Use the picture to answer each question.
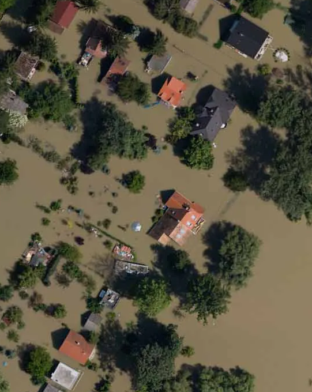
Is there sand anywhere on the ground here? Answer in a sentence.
No, there's no sand in this view.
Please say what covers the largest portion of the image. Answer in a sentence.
What you mostly see from above here is water.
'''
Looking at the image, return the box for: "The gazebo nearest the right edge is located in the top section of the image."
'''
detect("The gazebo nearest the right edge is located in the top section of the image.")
[271,47,288,64]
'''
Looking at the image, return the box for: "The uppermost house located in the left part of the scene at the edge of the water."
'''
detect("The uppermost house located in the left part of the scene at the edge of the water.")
[45,0,81,35]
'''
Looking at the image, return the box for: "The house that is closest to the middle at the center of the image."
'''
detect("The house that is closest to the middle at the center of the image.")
[155,187,210,248]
